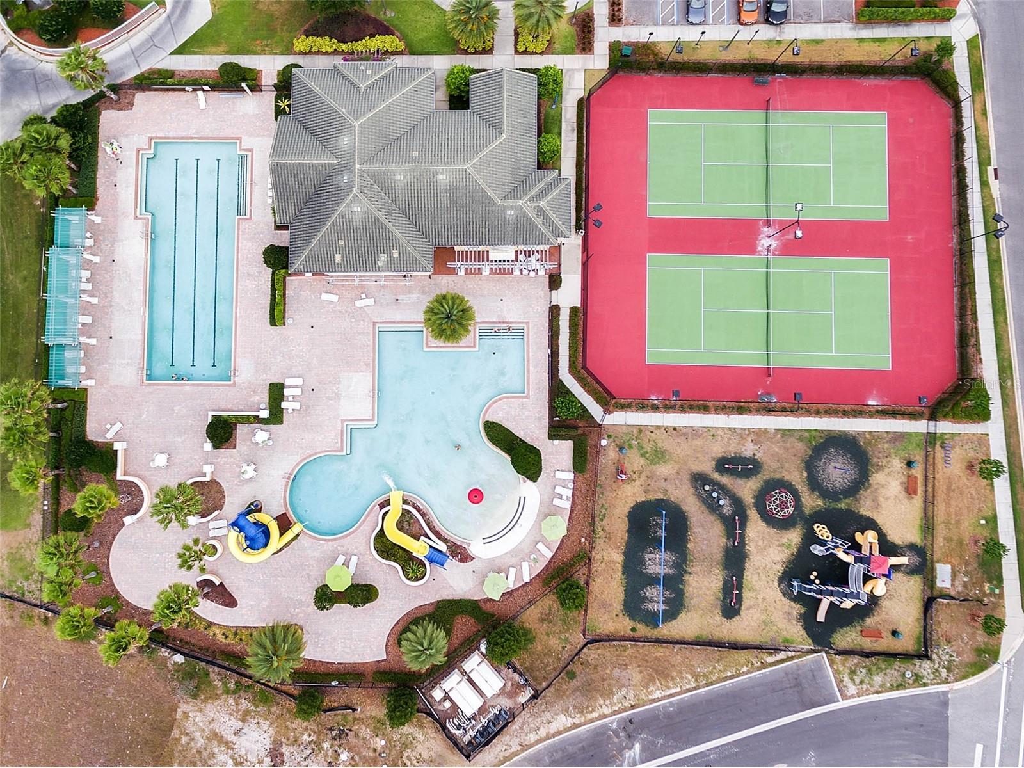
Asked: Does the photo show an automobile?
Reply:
Yes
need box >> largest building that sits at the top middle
[271,61,572,275]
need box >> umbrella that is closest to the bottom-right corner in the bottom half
[540,513,567,540]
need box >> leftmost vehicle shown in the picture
[685,0,708,25]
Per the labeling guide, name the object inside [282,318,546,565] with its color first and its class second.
white swimming pool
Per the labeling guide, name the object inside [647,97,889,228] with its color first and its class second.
green tennis court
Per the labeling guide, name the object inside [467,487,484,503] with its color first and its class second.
red fountain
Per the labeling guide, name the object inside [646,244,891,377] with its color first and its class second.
green tennis court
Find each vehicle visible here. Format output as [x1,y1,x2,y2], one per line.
[738,0,761,26]
[685,0,708,25]
[766,0,789,26]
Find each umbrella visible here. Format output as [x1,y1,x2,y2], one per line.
[325,564,352,590]
[483,573,507,597]
[540,513,567,540]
